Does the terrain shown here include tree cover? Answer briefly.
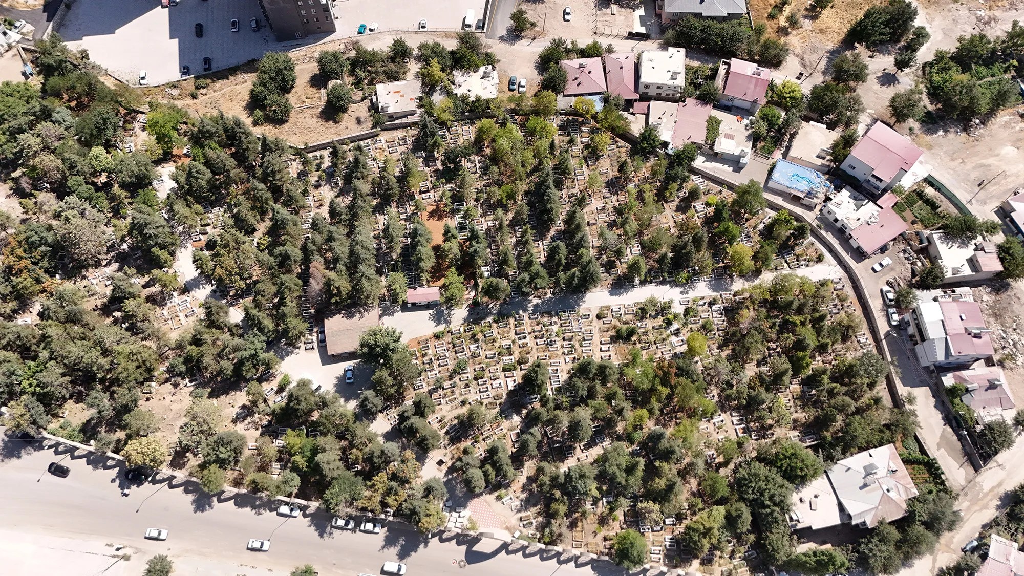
Yes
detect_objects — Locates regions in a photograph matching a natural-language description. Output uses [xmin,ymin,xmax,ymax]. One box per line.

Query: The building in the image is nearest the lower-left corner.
[324,306,380,357]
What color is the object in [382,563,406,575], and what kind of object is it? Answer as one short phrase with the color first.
white vehicle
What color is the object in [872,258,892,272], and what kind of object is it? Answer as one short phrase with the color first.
white car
